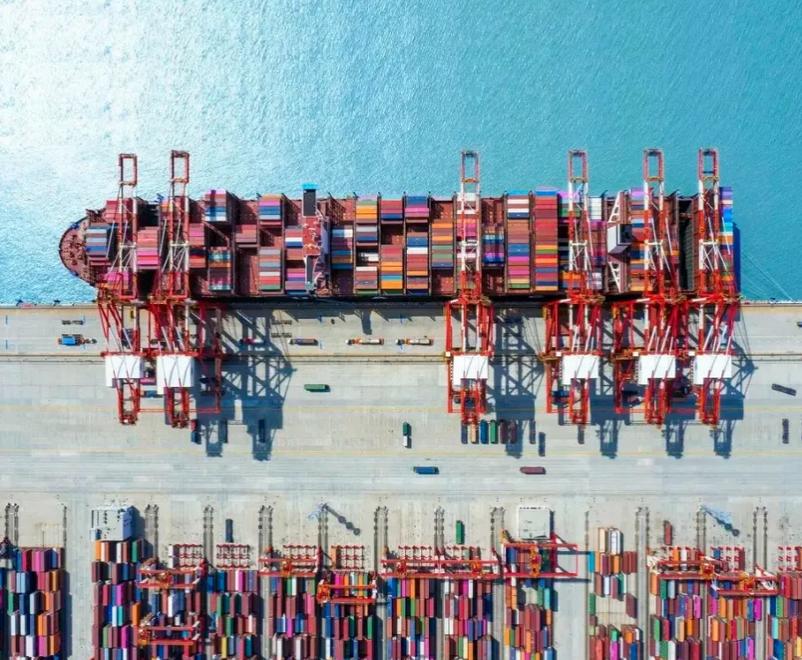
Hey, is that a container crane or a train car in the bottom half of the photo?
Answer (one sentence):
What appears in the bottom half of the photo is a container crane.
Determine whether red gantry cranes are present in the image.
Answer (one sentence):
Yes, the image includes a red gantry crane.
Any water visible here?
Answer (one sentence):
Yes, some water is visible.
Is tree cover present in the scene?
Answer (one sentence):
No, there is no tree cover in the image.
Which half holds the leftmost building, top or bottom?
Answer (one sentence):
The leftmost building sits in the bottom half of the picture.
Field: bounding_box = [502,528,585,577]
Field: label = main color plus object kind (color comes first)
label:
red container crane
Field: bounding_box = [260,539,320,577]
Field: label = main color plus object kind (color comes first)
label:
red container crane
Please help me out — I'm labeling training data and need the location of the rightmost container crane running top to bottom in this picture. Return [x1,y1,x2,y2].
[657,151,743,428]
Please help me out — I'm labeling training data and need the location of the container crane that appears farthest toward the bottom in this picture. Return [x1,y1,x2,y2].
[139,604,205,645]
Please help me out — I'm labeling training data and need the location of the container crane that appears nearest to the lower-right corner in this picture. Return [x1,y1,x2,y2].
[704,556,779,596]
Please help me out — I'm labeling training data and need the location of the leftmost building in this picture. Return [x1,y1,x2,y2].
[91,503,132,539]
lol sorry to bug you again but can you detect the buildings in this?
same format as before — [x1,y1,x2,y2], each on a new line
[91,503,132,539]
[516,504,551,538]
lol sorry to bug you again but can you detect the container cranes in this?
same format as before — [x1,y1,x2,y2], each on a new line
[139,550,205,588]
[320,564,377,604]
[438,151,492,428]
[657,151,743,428]
[260,539,320,577]
[598,151,685,428]
[531,151,603,428]
[502,528,585,577]
[96,153,180,430]
[440,541,500,579]
[381,541,441,579]
[704,556,779,596]
[647,541,718,579]
[152,151,236,428]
